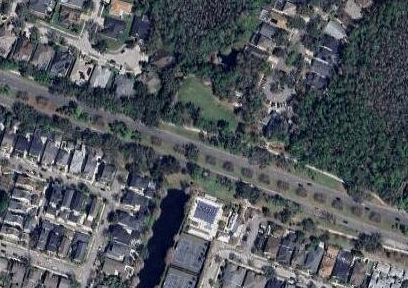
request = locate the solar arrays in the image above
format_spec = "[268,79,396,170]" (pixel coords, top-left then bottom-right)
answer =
[193,199,220,223]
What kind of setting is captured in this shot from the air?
residential area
